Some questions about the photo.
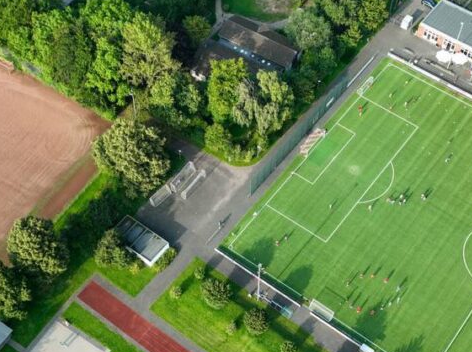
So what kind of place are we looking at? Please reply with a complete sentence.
This looks like a sports ground.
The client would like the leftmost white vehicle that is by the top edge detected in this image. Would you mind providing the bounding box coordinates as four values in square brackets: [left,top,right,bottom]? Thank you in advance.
[401,13,415,30]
